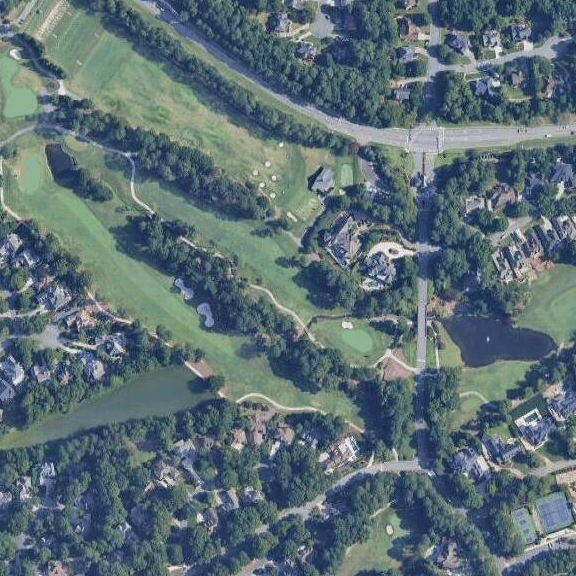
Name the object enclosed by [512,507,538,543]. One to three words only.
sports court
